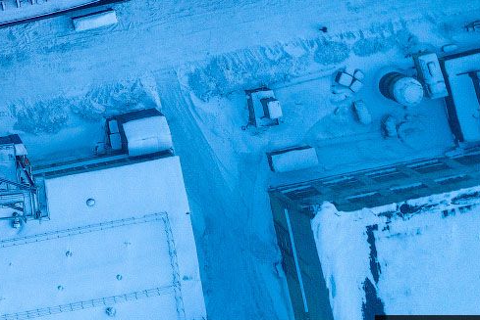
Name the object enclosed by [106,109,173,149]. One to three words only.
hangar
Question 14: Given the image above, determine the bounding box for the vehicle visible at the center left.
[95,136,107,154]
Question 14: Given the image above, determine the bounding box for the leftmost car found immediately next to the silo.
[354,100,374,125]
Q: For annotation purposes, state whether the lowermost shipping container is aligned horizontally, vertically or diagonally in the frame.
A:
horizontally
